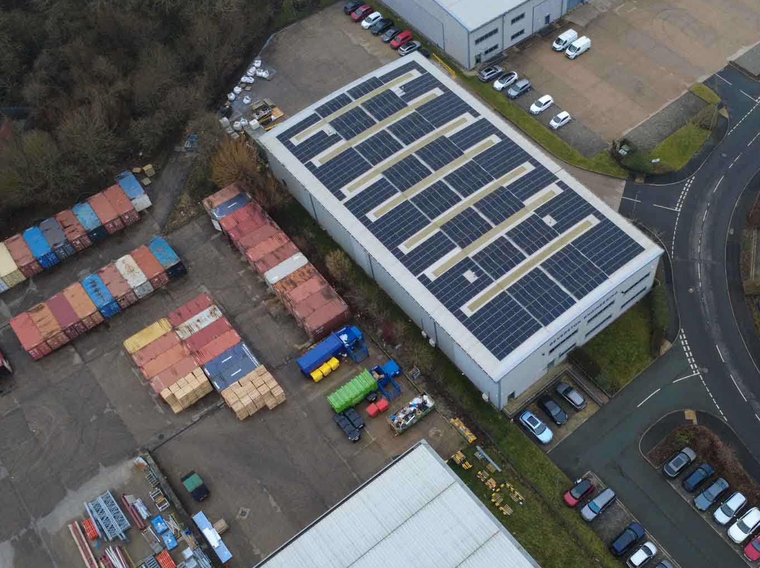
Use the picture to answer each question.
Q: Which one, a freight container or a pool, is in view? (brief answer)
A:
freight container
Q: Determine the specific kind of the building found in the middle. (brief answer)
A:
warehouse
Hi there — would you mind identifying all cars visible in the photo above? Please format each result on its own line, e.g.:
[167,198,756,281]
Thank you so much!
[654,557,677,568]
[360,10,384,30]
[730,507,760,541]
[610,521,645,556]
[580,488,616,521]
[624,539,661,568]
[493,73,519,92]
[369,17,397,38]
[419,46,434,58]
[381,27,403,44]
[554,383,588,412]
[507,79,531,99]
[343,0,367,15]
[695,478,730,510]
[565,479,595,506]
[352,4,374,21]
[389,29,414,49]
[537,395,569,427]
[397,40,423,57]
[550,112,571,129]
[478,62,504,83]
[745,533,760,560]
[714,491,747,524]
[520,412,552,444]
[530,96,554,115]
